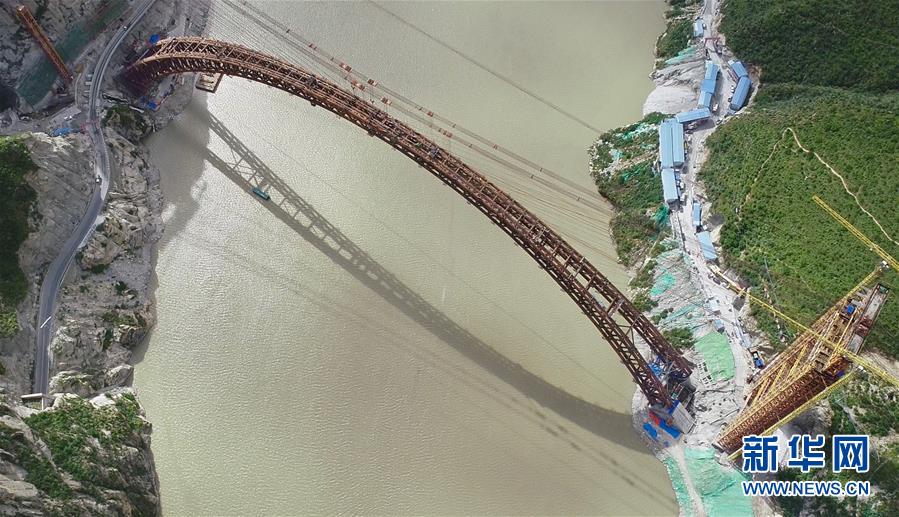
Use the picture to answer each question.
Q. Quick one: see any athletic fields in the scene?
No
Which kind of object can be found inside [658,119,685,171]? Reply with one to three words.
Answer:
shed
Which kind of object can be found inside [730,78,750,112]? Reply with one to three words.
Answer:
shed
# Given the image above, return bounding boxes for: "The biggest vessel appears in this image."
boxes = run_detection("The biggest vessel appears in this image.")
[191,70,224,97]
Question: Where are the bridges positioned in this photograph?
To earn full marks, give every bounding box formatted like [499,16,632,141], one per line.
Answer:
[117,37,705,420]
